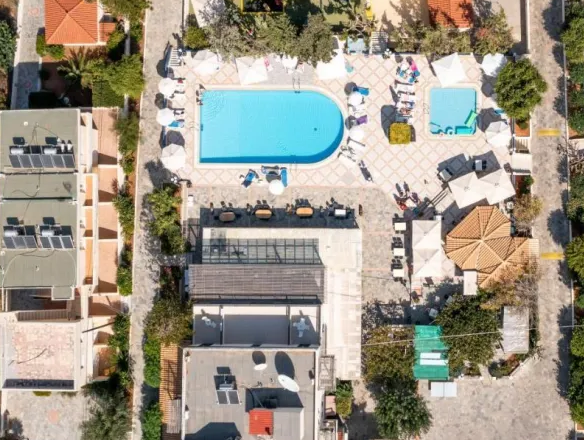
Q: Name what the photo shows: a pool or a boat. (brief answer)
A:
pool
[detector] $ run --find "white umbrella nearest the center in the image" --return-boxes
[270,179,286,195]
